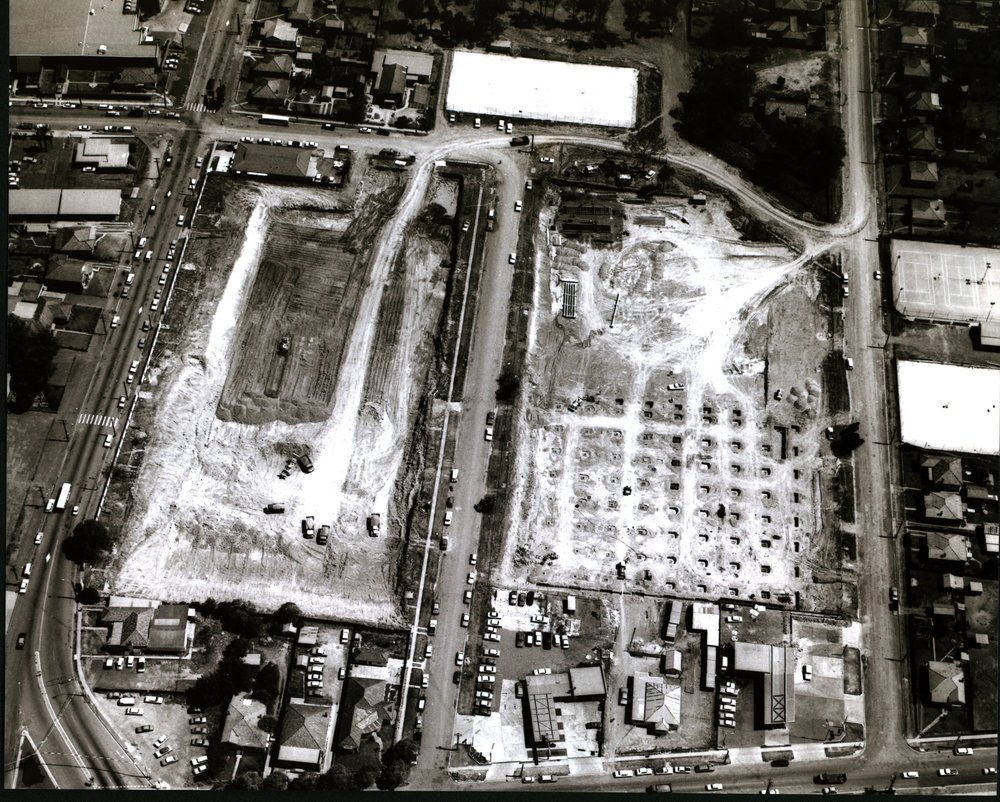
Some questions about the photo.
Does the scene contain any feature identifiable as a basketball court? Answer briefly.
No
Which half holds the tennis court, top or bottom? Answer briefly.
top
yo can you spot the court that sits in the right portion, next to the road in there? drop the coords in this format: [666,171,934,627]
[891,233,1000,323]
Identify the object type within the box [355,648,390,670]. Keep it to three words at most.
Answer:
house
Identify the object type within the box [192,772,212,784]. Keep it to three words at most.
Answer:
vehicle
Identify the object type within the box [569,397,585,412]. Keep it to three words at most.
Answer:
work vehicle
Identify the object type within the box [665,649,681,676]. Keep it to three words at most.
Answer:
shed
